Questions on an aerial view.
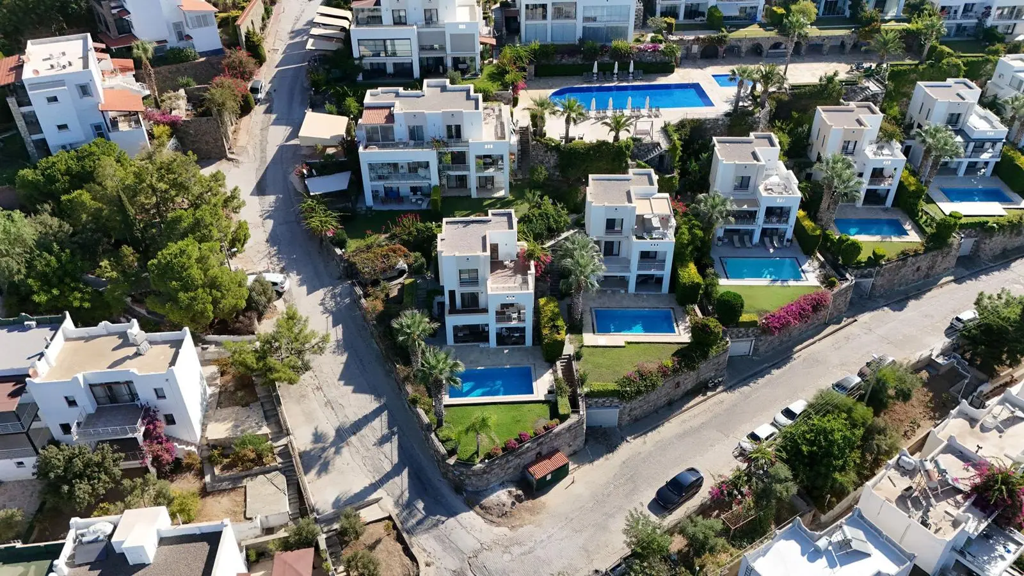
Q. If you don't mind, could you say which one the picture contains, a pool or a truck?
pool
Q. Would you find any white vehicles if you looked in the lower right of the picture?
Yes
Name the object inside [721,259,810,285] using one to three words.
swimming pool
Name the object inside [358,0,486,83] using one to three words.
house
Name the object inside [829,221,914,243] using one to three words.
swimming pool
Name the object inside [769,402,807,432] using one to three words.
car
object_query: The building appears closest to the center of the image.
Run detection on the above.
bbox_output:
[440,206,533,346]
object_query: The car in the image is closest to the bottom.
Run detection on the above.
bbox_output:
[652,471,701,511]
